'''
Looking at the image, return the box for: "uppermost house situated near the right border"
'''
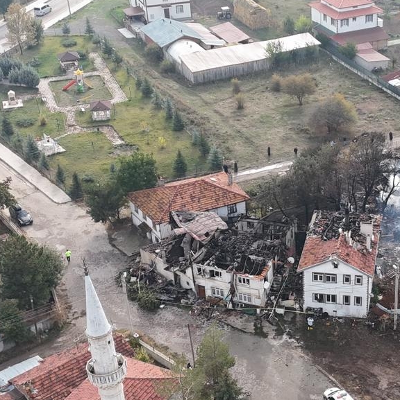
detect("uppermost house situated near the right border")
[306,0,387,49]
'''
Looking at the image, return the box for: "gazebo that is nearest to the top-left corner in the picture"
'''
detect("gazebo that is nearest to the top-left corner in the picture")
[54,50,80,72]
